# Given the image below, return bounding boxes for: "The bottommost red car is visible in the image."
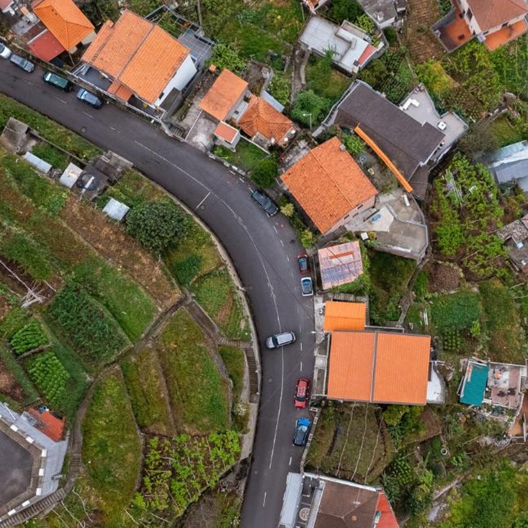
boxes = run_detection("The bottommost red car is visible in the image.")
[295,378,308,408]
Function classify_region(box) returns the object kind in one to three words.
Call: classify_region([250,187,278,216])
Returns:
car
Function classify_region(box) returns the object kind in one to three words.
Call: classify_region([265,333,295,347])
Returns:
car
